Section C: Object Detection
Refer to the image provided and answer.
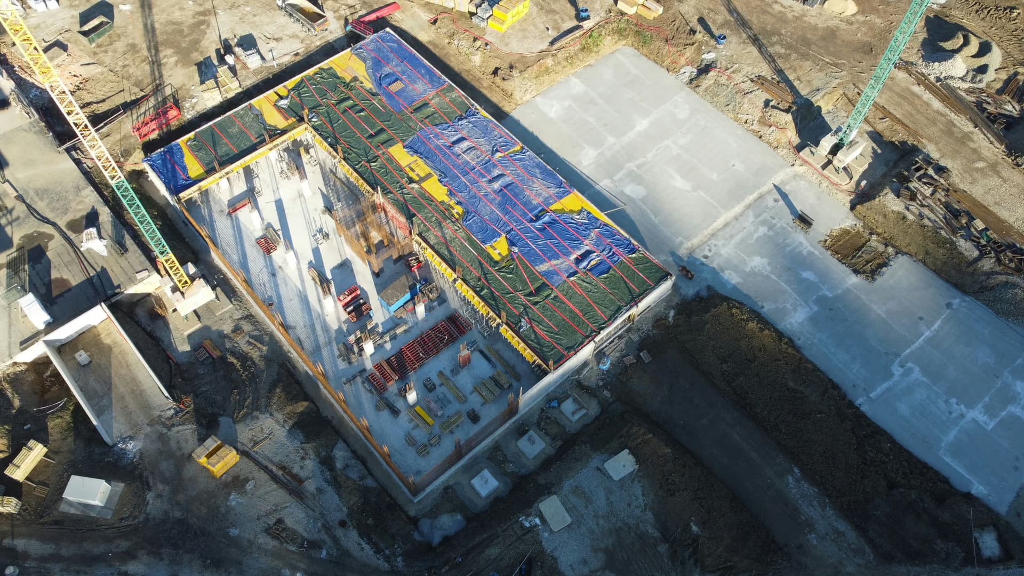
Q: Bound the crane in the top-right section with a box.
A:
[800,0,948,200]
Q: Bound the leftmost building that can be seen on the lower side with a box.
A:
[46,468,128,522]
